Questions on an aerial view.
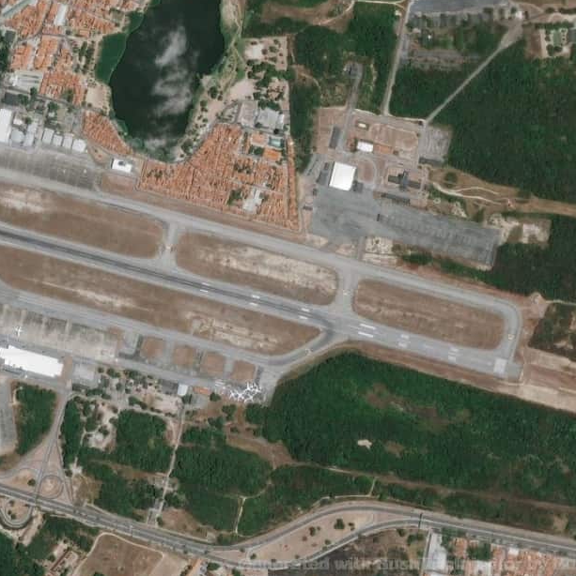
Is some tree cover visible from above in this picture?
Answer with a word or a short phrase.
Yes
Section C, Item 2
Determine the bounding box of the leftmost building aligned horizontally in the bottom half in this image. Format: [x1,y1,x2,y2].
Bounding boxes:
[0,346,64,379]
